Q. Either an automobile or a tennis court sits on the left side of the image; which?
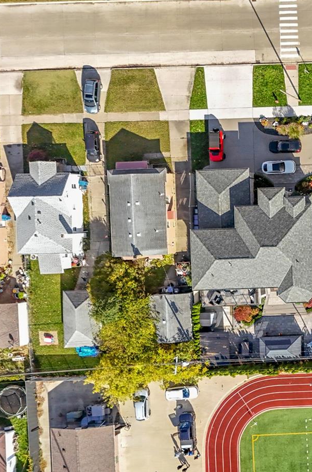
automobile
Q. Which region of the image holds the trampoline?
bottom left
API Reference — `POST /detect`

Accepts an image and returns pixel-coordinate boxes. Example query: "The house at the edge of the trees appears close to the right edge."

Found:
[190,168,312,303]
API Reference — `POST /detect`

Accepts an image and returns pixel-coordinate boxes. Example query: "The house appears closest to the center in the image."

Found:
[108,161,175,259]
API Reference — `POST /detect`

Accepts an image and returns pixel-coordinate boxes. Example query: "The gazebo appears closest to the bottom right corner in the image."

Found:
[256,335,303,360]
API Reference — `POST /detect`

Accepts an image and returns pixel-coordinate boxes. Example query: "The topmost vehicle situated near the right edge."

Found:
[268,138,302,154]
